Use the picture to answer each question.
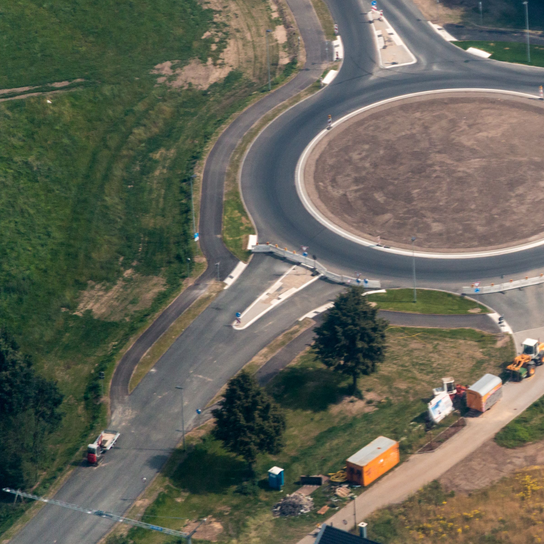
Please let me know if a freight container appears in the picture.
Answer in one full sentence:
Yes, the frame does contain a freight container.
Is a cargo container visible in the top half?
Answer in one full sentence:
No, in the top half there is no cargo container.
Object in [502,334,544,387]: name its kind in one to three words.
work vehicle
